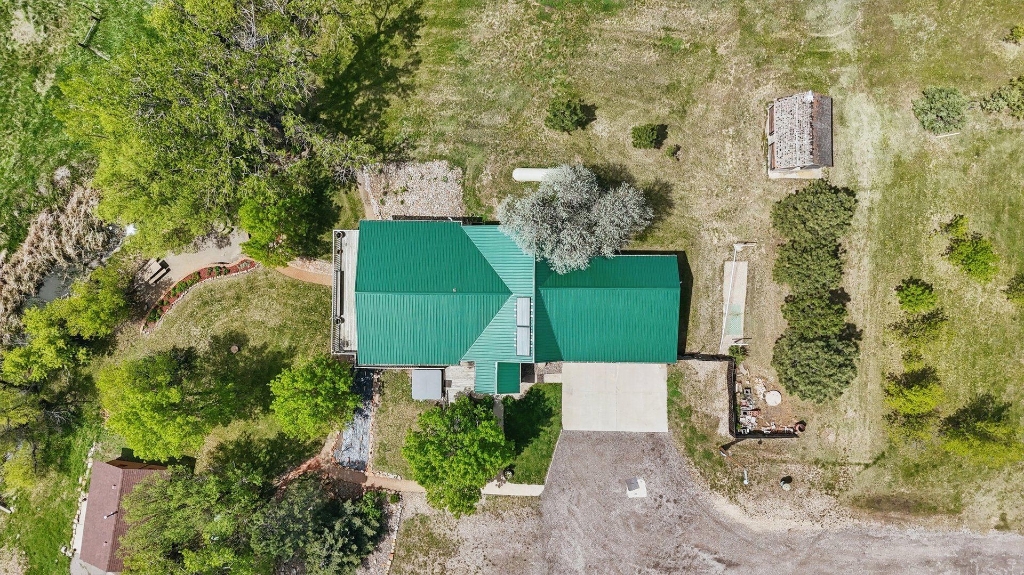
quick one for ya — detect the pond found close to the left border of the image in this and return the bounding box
[7,224,139,388]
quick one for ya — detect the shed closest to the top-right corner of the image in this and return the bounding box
[764,91,833,178]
